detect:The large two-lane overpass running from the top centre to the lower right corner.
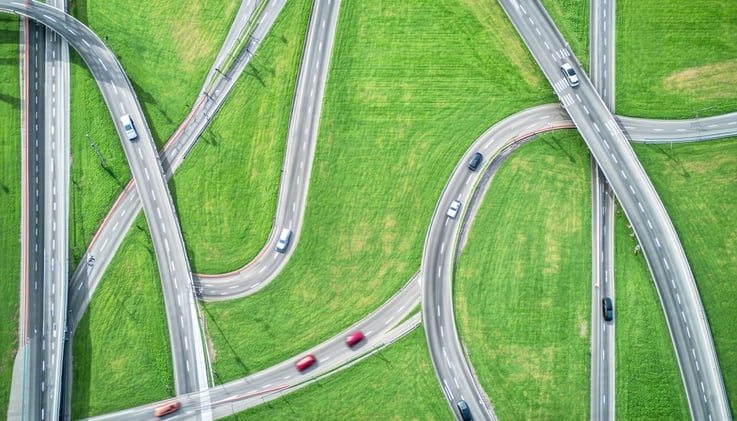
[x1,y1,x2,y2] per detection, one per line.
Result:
[497,0,735,421]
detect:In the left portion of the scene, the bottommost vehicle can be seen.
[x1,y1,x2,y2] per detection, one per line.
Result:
[154,400,181,416]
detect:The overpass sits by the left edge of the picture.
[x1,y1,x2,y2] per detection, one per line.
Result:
[0,0,202,399]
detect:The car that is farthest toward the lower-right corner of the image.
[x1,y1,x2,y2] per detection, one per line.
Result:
[602,296,614,322]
